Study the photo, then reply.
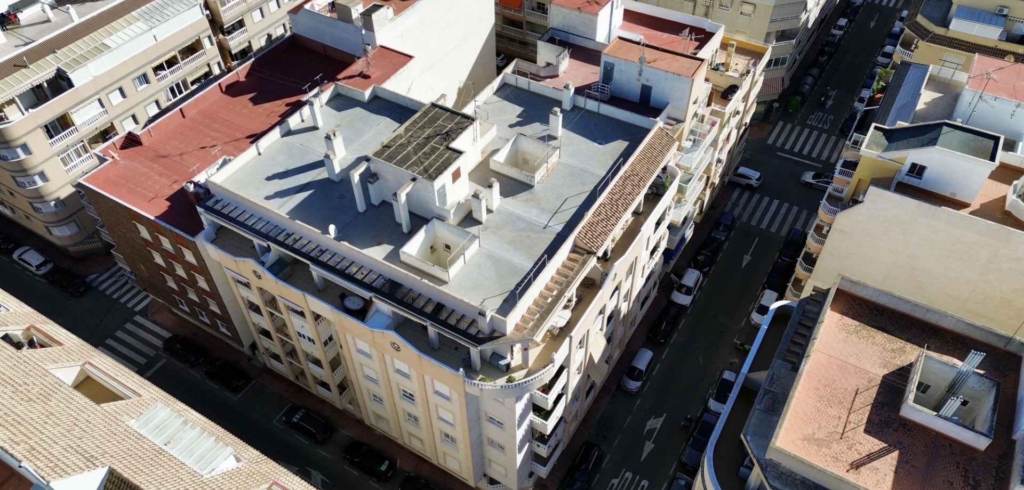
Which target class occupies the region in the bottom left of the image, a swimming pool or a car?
car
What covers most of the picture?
buildings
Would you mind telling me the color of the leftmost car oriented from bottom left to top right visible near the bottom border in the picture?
black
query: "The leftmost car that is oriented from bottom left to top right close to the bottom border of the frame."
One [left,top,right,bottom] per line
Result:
[560,430,612,490]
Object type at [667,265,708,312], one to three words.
car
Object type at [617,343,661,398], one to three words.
car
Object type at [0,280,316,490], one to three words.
building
